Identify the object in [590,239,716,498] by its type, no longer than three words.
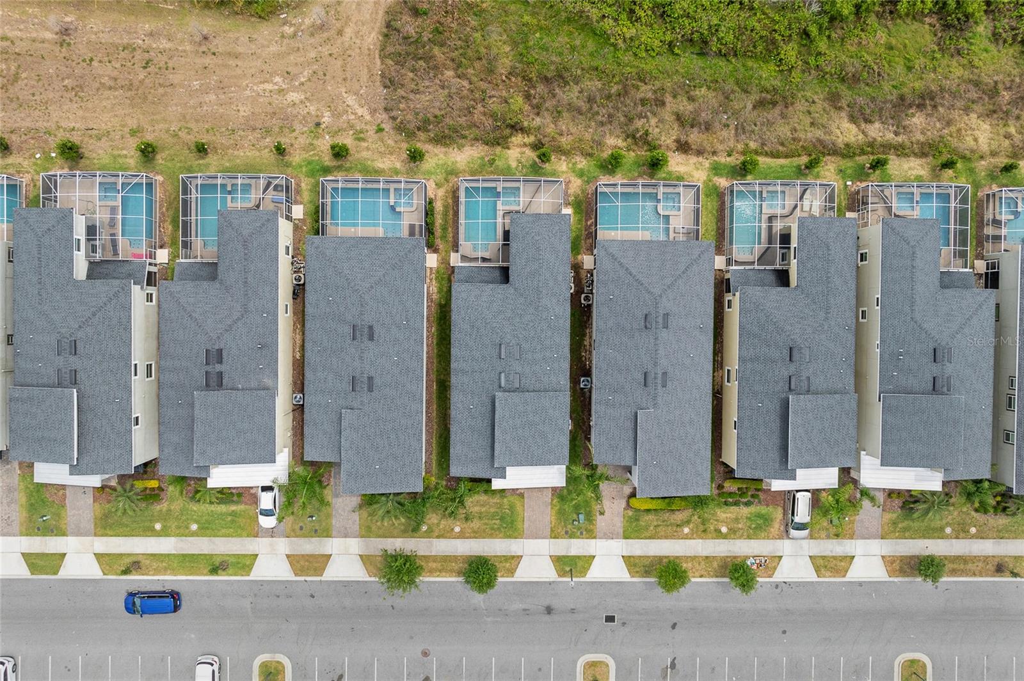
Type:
house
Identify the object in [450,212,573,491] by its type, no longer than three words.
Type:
house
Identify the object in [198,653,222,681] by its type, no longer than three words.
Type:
car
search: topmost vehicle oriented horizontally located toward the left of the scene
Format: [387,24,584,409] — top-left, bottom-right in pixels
[129,589,183,616]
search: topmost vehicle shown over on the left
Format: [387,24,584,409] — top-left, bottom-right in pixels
[256,486,281,530]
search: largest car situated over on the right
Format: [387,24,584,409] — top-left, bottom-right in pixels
[784,491,812,540]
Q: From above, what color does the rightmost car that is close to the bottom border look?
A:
white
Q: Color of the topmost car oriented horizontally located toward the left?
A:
blue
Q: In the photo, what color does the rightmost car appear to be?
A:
white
